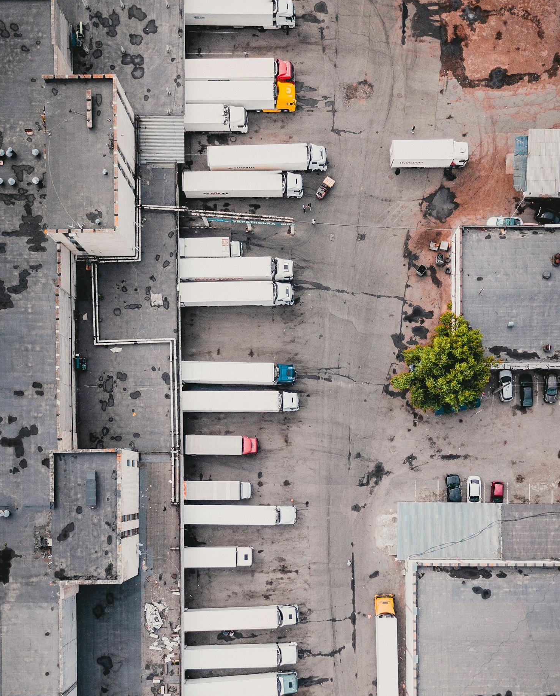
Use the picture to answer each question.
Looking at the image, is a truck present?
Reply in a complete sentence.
Yes, this view includes a truck.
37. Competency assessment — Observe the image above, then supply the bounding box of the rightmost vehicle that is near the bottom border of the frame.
[374,591,398,696]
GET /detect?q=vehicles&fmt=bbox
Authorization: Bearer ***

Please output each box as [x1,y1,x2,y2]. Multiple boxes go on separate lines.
[185,58,296,89]
[466,475,483,502]
[185,0,297,30]
[184,362,297,385]
[317,180,331,201]
[186,503,297,526]
[542,373,560,405]
[186,435,260,456]
[374,591,398,696]
[186,603,300,631]
[185,80,297,112]
[184,390,301,414]
[183,238,245,258]
[183,170,304,200]
[445,474,462,502]
[186,643,299,670]
[186,671,300,696]
[183,257,295,282]
[390,140,470,169]
[186,545,255,568]
[437,396,478,418]
[534,209,560,225]
[184,104,249,134]
[490,479,505,503]
[183,281,295,307]
[519,373,535,408]
[182,479,254,501]
[206,144,329,173]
